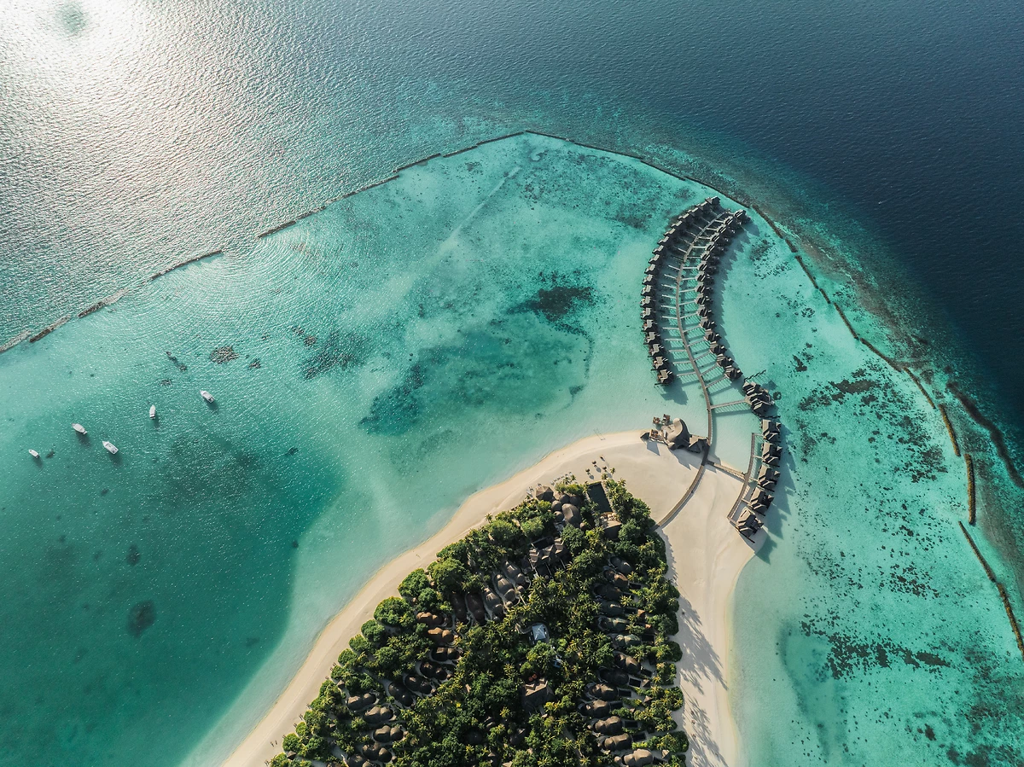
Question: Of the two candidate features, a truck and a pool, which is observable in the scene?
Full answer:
This aerial view contains a pool.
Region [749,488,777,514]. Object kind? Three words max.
house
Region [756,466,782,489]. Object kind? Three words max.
house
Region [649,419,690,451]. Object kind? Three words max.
building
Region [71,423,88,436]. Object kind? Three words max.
boat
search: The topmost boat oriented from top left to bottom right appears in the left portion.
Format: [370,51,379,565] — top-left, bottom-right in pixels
[200,390,216,404]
